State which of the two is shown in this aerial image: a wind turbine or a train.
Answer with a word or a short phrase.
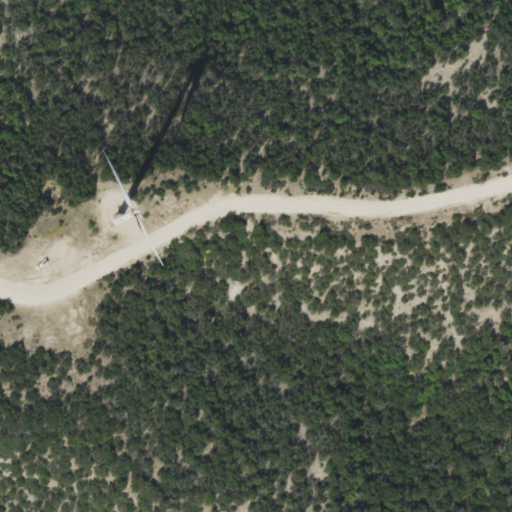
wind turbine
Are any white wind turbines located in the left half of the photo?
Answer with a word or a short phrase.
Yes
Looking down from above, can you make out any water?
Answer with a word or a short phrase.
No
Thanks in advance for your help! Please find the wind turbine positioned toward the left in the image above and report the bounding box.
[102,150,163,266]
